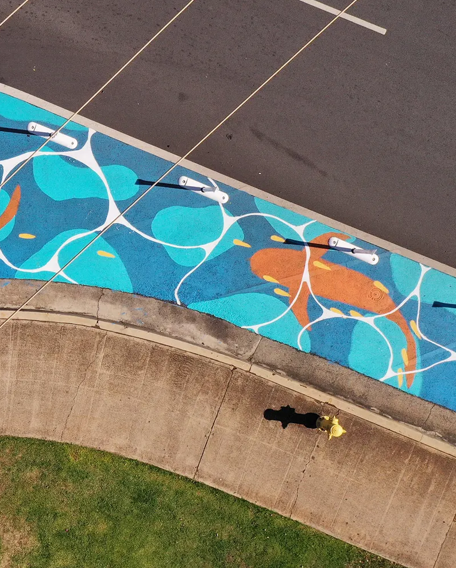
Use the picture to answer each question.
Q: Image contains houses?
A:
No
